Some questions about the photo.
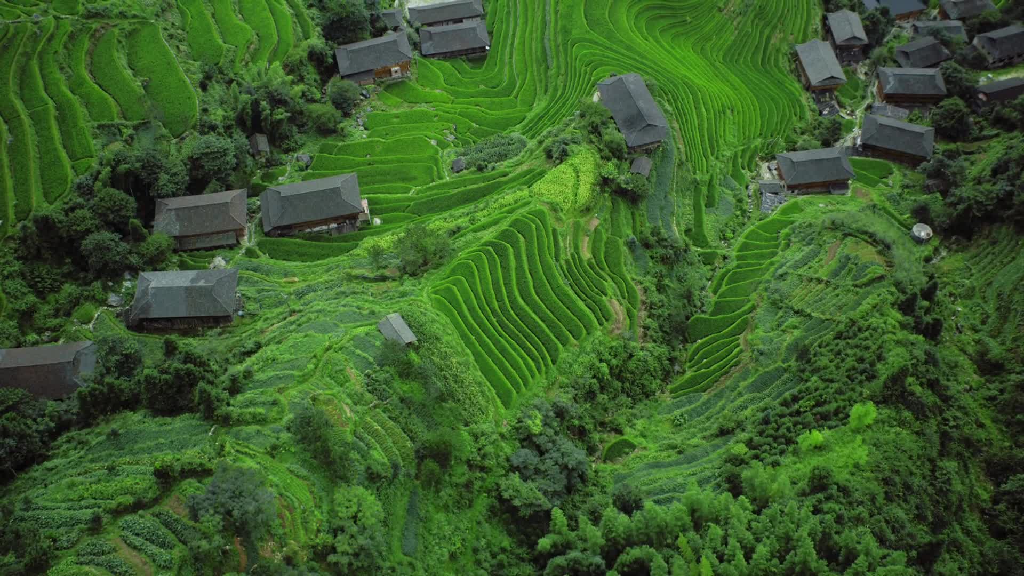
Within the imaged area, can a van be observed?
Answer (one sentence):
No, no van is visible in the scene.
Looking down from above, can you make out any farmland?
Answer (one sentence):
Yes, farmland can be seen from above here.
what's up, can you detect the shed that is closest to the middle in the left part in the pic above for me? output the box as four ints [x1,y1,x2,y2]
[378,312,416,358]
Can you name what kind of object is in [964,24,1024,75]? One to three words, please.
house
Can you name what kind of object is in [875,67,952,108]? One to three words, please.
house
